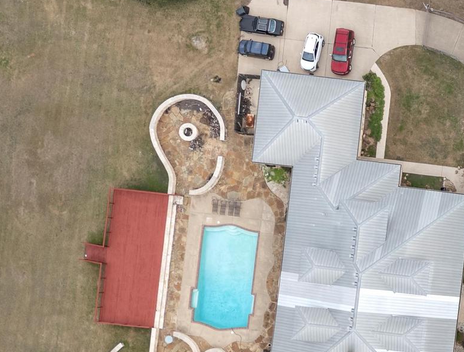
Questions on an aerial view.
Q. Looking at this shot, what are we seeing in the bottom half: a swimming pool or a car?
swimming pool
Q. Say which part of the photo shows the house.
right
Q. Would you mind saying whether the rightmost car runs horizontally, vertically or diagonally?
vertically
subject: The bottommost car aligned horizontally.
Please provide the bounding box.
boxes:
[238,39,278,61]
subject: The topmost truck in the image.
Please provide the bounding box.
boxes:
[238,16,287,38]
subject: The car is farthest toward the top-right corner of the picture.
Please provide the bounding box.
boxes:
[331,28,356,77]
